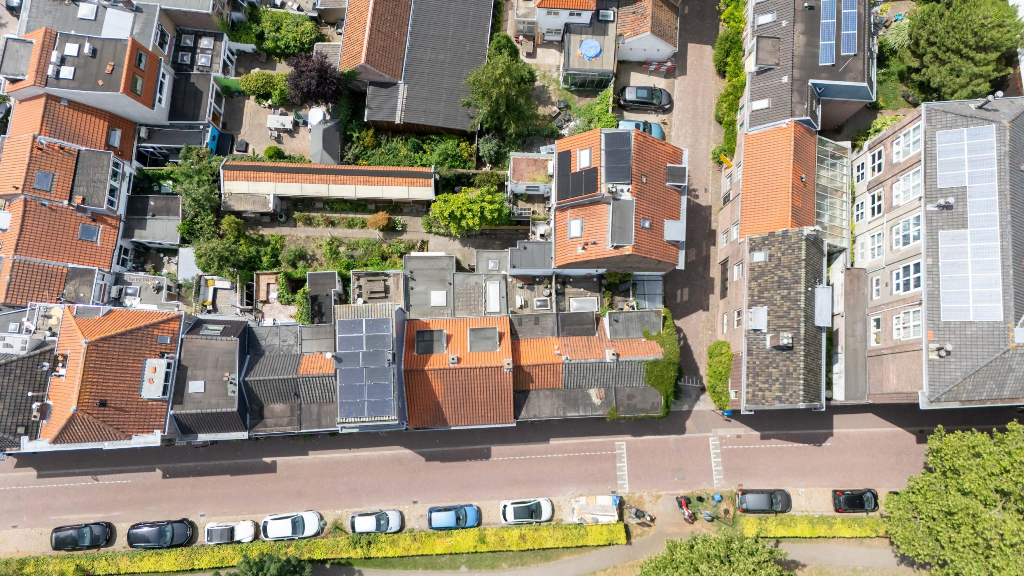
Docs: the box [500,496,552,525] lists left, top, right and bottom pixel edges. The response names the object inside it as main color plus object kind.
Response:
white car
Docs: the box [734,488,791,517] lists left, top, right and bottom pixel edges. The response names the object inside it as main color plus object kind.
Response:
gray car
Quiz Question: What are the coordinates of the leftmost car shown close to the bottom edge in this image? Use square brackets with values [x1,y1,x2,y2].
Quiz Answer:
[49,520,113,551]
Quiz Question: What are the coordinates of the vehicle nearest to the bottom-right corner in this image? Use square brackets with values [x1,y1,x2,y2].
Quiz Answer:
[830,488,878,516]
